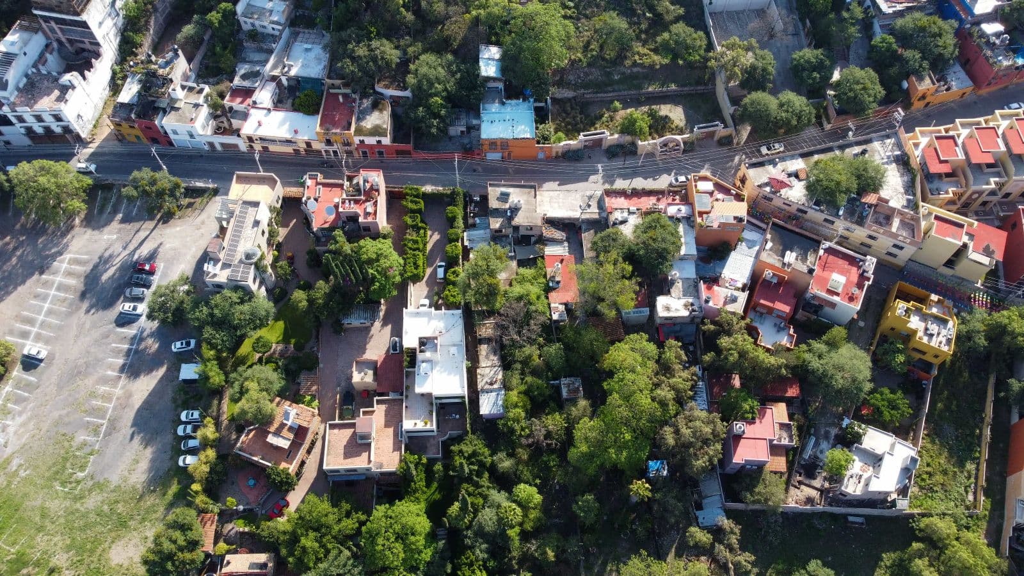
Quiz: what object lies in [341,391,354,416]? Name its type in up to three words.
vehicle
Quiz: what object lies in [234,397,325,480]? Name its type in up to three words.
house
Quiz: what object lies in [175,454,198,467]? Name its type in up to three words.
vehicle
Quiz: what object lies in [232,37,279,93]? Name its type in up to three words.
house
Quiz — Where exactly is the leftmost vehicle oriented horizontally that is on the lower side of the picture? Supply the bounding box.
[22,347,49,360]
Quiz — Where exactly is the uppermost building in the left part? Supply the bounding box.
[239,0,294,46]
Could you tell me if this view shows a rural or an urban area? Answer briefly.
urban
